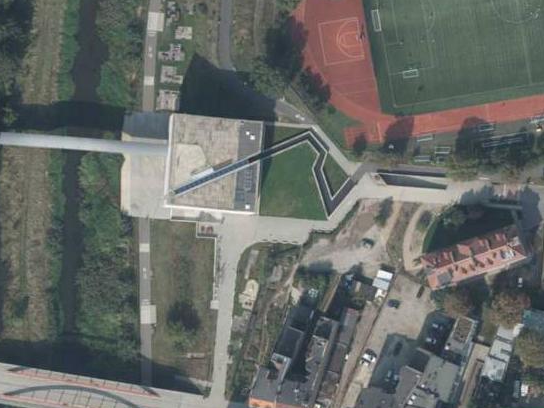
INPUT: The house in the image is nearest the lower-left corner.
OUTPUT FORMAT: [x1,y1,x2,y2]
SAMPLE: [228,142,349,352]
[246,363,283,408]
